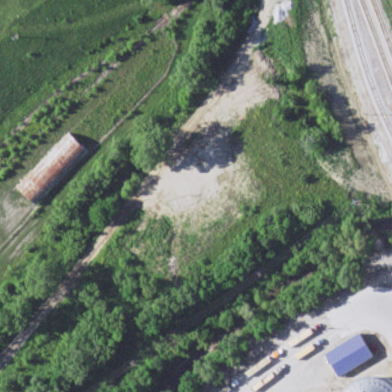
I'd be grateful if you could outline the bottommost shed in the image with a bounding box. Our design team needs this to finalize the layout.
[326,334,373,377]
